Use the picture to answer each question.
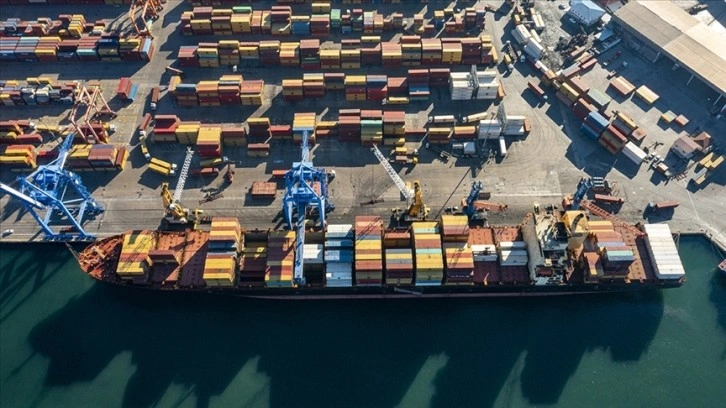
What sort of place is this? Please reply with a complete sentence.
The picture captures a port.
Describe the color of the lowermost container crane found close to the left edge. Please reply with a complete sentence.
The lowermost container crane found close to the left edge is blue.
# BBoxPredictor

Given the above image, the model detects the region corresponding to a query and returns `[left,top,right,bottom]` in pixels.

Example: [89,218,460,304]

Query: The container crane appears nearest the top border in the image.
[125,0,160,37]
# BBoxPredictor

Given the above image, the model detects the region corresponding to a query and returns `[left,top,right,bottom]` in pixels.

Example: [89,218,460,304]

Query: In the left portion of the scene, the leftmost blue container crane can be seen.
[0,131,103,237]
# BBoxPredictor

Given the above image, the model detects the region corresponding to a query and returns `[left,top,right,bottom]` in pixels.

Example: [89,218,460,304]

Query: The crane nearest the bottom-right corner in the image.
[557,180,647,248]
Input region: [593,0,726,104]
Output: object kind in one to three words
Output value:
building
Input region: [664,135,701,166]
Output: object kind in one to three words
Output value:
building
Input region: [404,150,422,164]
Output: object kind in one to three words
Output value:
work vehicle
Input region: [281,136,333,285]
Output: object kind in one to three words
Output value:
container crane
